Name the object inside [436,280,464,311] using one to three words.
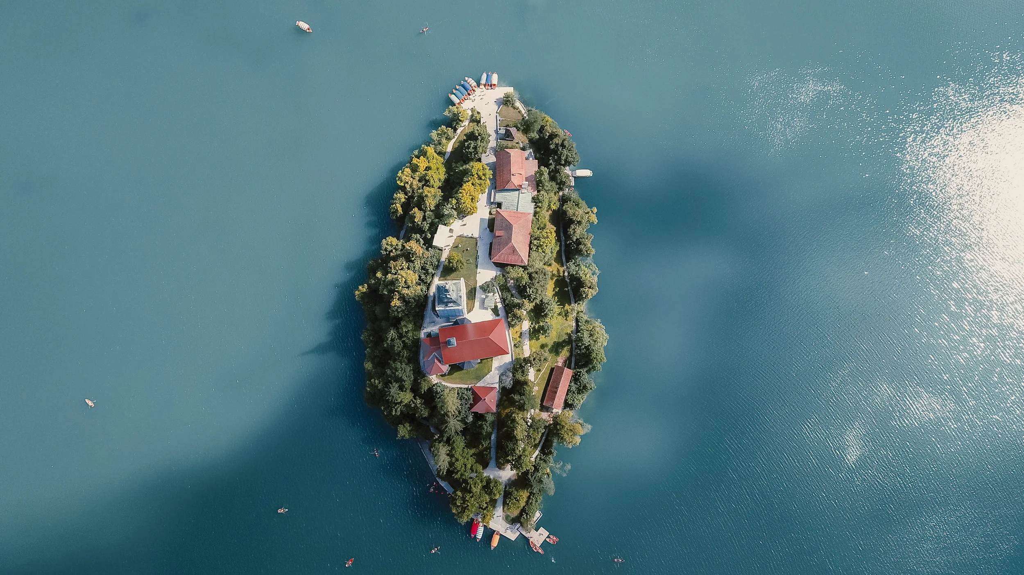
building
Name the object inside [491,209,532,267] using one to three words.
house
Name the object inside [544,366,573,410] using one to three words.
house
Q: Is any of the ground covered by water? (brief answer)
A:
Yes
